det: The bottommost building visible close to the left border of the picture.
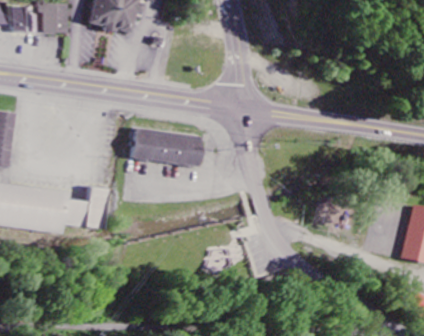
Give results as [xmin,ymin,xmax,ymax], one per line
[0,184,90,236]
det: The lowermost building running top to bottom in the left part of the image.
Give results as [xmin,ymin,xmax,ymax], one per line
[88,188,110,230]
